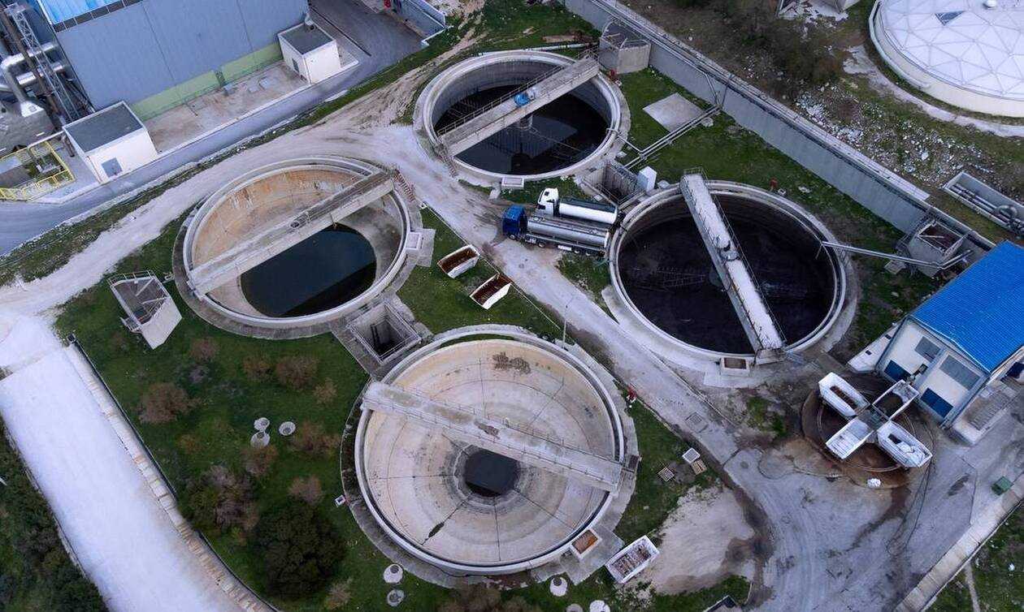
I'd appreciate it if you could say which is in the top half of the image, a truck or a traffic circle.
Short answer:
truck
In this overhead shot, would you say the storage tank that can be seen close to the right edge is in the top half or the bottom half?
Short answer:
top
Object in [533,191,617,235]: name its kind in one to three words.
truck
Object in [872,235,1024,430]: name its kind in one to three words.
building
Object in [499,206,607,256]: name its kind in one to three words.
truck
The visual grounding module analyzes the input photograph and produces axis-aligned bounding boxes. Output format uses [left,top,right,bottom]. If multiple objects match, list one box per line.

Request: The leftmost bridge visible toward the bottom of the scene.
[356,379,631,495]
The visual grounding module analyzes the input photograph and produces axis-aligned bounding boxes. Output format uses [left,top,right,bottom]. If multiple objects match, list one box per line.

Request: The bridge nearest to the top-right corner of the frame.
[678,163,783,356]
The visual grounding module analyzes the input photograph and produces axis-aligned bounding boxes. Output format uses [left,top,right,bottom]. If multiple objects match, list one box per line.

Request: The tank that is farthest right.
[866,0,1024,120]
